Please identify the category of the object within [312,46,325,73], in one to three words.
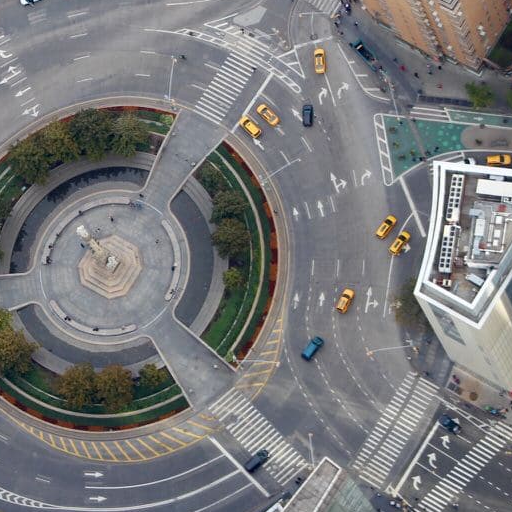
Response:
vehicle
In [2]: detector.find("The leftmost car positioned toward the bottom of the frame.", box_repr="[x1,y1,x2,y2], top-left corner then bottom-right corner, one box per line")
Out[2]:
[242,446,270,473]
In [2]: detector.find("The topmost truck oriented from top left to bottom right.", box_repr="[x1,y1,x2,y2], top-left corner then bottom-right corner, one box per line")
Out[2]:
[348,37,381,68]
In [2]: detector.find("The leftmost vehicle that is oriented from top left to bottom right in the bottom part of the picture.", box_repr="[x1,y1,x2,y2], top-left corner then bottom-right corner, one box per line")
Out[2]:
[437,413,462,435]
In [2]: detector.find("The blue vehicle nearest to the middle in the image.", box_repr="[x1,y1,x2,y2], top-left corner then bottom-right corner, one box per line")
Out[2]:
[298,334,325,361]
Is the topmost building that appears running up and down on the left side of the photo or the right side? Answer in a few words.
right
